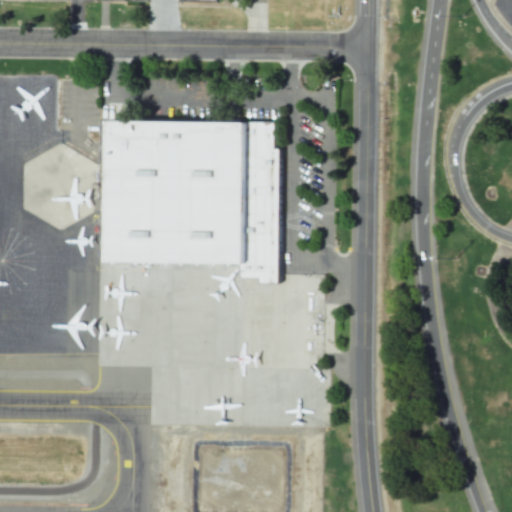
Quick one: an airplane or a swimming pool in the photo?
airplane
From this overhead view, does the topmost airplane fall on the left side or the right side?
left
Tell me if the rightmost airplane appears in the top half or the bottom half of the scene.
bottom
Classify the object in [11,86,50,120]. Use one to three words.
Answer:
airplane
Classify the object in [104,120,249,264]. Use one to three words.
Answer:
hangar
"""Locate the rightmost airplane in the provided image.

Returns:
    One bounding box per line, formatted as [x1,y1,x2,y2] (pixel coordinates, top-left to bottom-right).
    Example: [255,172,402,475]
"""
[286,398,315,426]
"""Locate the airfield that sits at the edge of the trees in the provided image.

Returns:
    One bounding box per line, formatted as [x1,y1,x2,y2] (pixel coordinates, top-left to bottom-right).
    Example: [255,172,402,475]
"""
[0,76,335,512]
